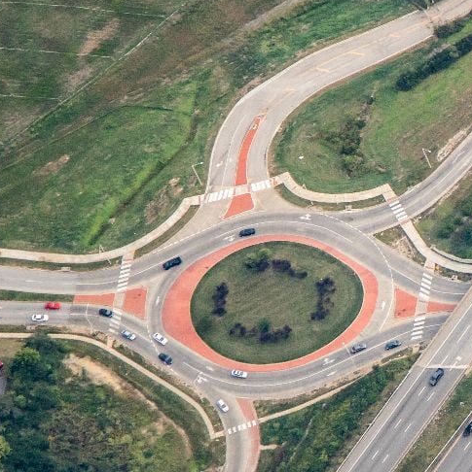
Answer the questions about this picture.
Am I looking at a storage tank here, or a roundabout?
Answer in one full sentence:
Of the two, only a roundabout appears.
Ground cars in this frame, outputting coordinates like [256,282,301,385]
[157,352,172,364]
[164,257,179,268]
[384,341,400,350]
[98,308,113,317]
[121,329,136,340]
[231,371,246,377]
[350,343,367,352]
[32,315,48,322]
[153,333,168,344]
[217,399,228,413]
[463,422,472,436]
[239,227,254,236]
[44,301,60,309]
